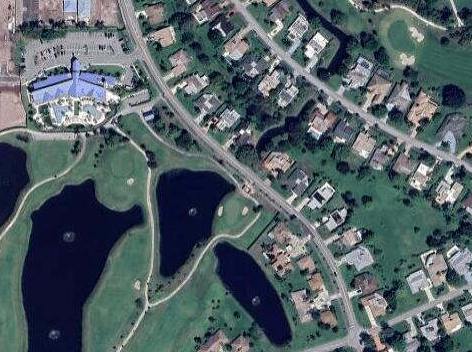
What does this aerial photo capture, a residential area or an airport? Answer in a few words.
residential area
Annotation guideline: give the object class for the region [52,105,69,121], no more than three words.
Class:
swimming pool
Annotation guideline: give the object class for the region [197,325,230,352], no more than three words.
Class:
house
